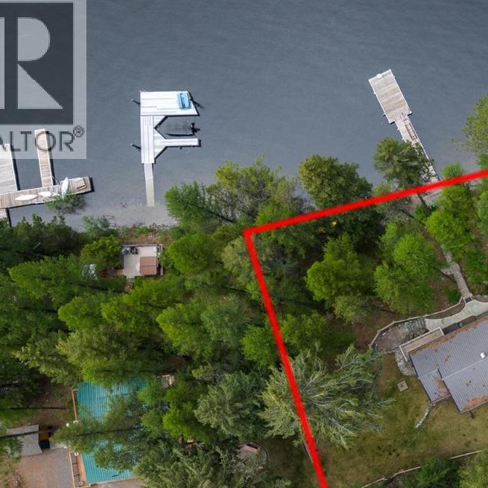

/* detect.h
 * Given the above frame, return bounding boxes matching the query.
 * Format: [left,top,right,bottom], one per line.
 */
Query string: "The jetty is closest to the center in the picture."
[129,91,200,207]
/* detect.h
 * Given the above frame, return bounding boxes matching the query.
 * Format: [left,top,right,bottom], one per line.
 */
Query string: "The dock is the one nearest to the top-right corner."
[368,70,441,185]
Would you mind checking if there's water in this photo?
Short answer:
Yes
